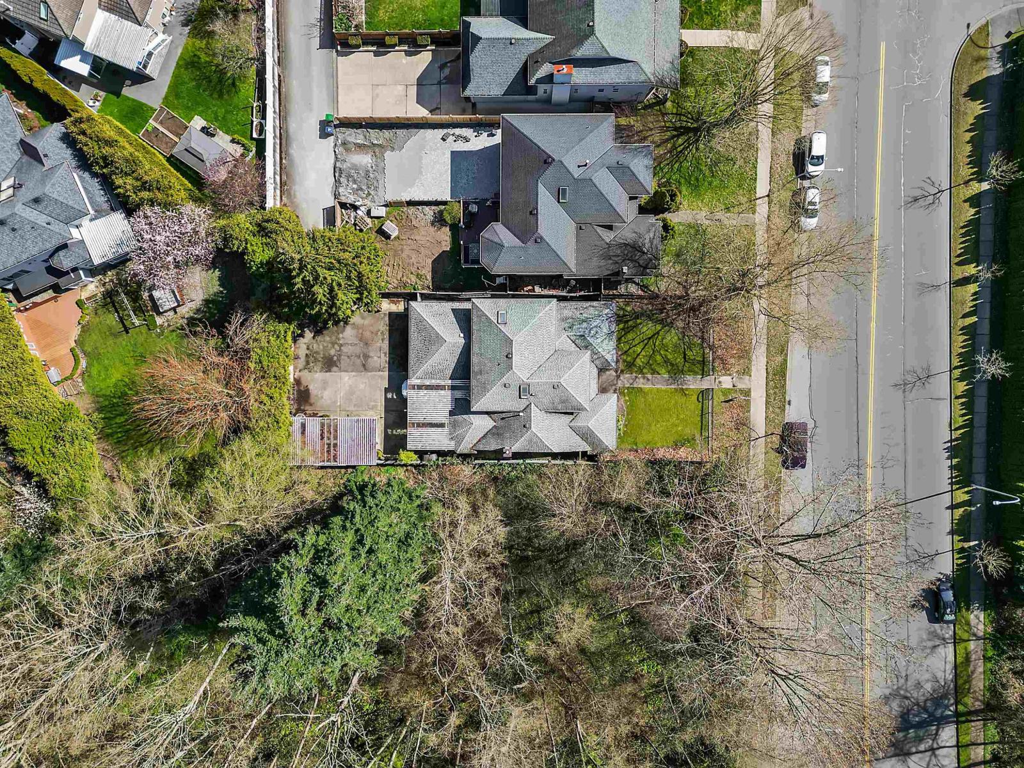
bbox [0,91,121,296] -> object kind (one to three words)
house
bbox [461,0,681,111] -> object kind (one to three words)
house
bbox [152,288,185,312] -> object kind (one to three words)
shed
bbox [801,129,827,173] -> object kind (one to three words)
car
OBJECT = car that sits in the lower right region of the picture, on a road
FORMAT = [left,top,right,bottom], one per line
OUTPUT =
[930,583,957,624]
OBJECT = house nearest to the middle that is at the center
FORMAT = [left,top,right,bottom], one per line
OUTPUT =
[408,297,618,457]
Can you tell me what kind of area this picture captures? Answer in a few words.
residential area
